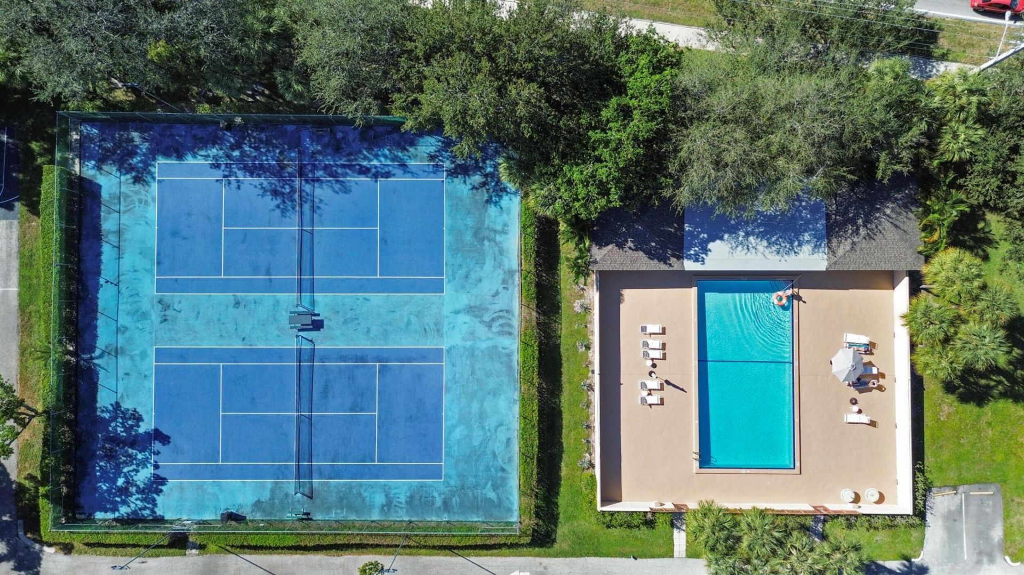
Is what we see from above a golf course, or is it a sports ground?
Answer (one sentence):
What you see here is a sports ground.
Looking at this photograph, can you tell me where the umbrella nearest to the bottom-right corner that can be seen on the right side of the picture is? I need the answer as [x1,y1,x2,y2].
[830,349,862,383]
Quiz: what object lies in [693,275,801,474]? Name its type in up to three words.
swimming pool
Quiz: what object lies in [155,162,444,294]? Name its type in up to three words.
tennis court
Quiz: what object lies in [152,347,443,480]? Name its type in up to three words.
tennis court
